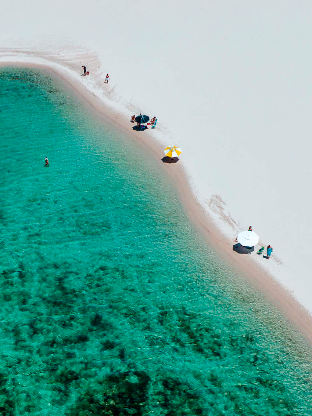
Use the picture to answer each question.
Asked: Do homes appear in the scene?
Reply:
No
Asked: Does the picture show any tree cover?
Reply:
No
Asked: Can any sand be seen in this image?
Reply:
Yes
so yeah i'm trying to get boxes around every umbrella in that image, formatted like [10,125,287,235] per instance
[164,145,182,158]
[237,230,260,251]
[135,114,150,128]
